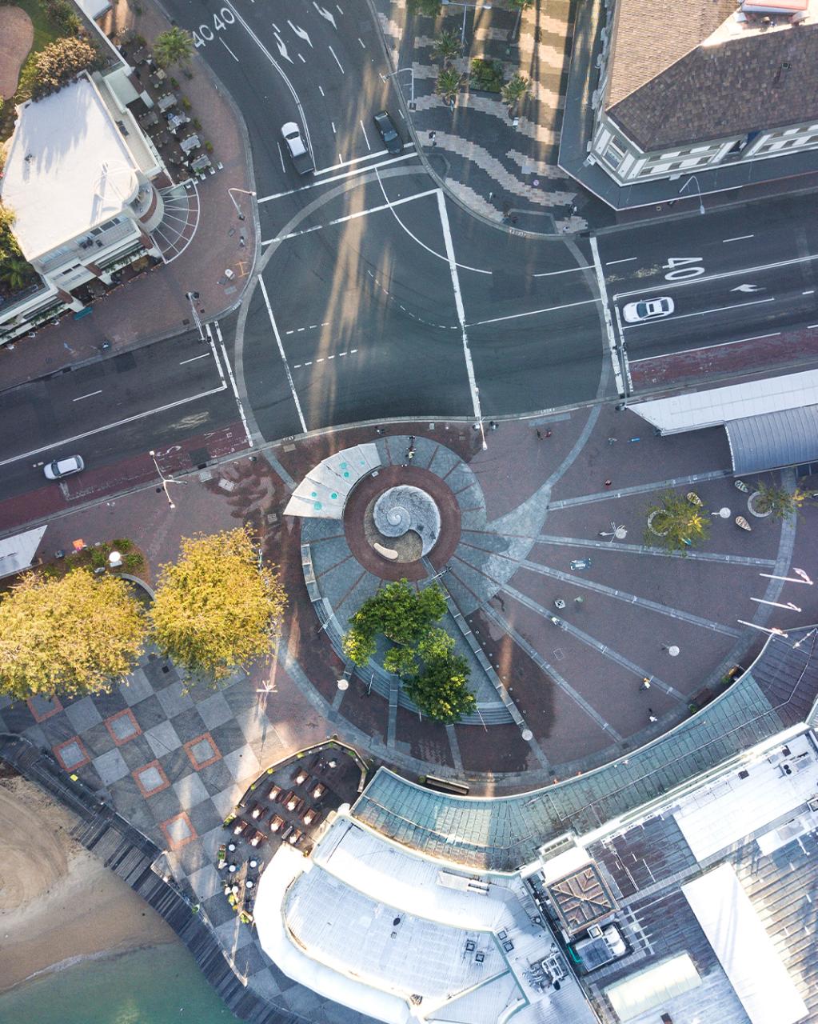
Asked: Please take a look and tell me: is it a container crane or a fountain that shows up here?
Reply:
fountain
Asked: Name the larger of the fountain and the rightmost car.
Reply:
the fountain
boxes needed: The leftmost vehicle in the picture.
[40,453,84,480]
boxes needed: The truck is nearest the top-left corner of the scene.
[282,117,316,174]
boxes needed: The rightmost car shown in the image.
[625,292,680,321]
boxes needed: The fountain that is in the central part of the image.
[372,482,441,556]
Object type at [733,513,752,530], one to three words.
boat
